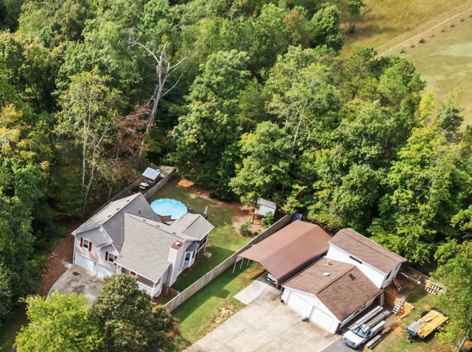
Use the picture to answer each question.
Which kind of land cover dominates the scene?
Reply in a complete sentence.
The largest share of the image is taken up by trees.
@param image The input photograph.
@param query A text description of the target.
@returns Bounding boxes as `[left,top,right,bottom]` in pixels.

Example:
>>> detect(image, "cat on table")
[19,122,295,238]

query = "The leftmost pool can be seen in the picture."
[150,195,189,225]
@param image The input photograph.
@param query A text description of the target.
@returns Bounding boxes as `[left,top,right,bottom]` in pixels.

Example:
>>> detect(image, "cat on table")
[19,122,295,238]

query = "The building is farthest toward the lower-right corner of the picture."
[283,226,412,333]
